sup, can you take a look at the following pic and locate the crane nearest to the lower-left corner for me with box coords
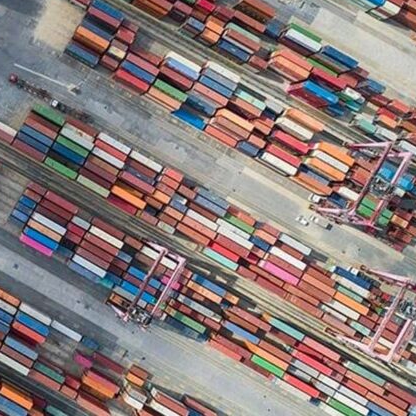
[104,237,188,330]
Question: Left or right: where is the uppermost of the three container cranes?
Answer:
right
